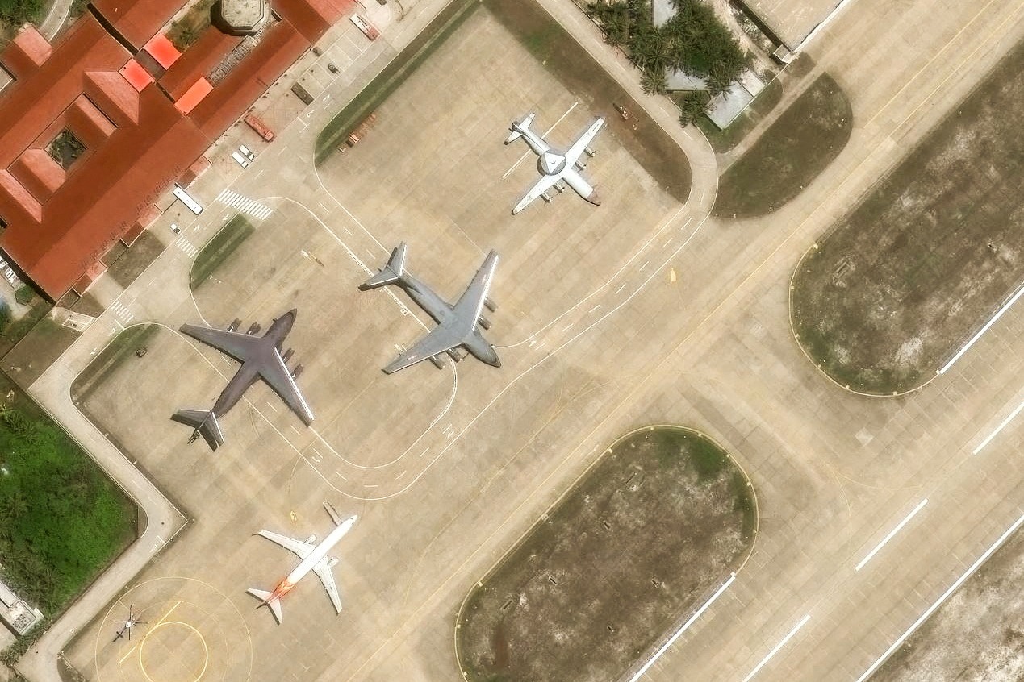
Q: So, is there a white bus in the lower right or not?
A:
No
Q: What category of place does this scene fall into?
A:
airport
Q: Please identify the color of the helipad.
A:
yellow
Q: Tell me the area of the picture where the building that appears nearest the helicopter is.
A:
bottom left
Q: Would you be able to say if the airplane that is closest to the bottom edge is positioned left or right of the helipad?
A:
right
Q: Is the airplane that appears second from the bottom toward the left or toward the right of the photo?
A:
left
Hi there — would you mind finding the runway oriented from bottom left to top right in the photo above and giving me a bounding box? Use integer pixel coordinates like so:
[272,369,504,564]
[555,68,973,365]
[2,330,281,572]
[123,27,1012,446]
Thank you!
[614,284,1024,682]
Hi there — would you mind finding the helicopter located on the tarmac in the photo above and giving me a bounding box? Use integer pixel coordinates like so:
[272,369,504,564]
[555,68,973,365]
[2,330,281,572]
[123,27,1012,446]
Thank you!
[112,605,148,642]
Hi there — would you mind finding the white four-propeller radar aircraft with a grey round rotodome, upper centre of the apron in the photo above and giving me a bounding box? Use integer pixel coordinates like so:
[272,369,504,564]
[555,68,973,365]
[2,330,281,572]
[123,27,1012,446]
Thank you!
[502,111,603,214]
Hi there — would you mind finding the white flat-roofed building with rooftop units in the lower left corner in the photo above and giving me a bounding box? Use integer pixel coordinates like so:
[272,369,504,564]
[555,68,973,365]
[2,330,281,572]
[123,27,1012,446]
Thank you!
[0,579,45,635]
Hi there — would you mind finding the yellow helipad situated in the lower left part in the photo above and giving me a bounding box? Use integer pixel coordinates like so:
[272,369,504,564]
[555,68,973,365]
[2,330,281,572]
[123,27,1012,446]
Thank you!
[96,578,251,682]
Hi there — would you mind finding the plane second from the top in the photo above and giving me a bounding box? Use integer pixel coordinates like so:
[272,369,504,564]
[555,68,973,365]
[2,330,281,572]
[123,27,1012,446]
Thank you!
[365,241,501,375]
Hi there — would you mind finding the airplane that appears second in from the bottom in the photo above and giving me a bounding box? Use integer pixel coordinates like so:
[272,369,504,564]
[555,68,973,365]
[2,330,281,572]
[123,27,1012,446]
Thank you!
[178,310,313,446]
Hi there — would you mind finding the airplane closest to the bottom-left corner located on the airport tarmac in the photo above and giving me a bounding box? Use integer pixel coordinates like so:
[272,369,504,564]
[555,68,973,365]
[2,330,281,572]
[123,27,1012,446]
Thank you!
[247,516,358,623]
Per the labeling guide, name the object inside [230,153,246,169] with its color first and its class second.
white vehicle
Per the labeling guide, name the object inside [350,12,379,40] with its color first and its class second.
white bus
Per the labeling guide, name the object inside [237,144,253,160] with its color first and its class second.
white vehicle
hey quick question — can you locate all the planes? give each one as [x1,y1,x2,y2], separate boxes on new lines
[365,241,501,375]
[247,516,358,623]
[502,111,603,214]
[178,310,313,446]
